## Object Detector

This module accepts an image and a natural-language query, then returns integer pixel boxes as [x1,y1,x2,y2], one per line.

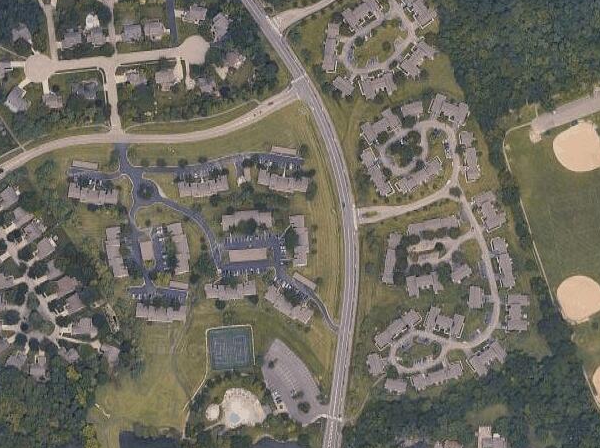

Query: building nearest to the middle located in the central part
[289,215,309,266]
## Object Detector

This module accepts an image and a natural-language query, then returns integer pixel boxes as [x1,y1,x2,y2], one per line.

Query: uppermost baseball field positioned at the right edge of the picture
[551,121,600,173]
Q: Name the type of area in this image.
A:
residential area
